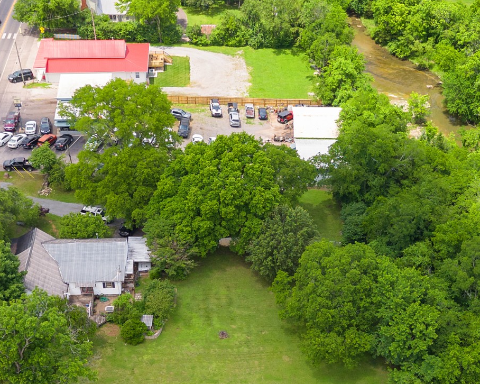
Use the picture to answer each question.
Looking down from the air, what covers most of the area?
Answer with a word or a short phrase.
trees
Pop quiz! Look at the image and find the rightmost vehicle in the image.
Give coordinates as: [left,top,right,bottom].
[277,110,293,124]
